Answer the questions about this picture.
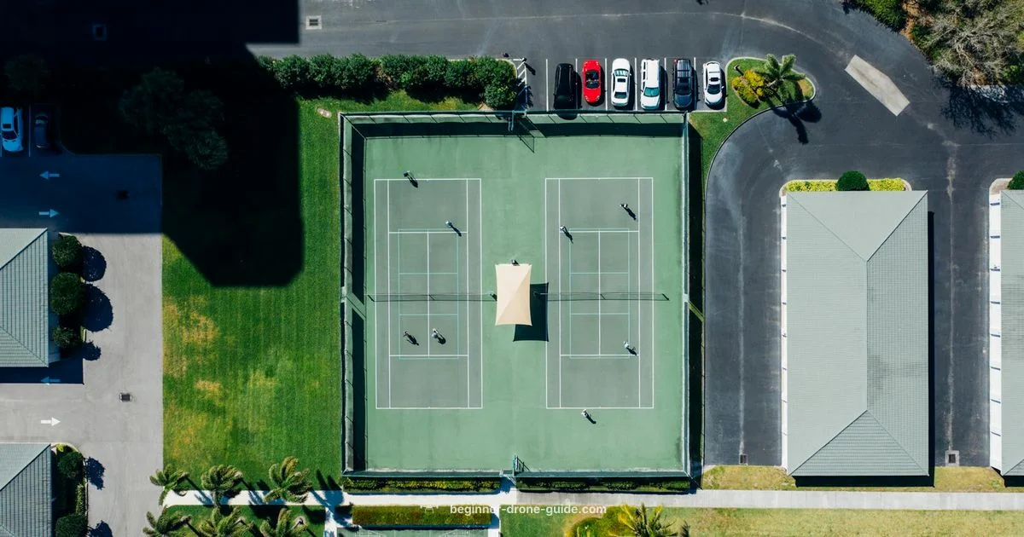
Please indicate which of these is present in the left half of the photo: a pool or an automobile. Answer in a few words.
automobile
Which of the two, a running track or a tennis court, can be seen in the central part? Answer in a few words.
tennis court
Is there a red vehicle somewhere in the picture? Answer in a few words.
Yes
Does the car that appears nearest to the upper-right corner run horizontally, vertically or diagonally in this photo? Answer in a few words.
vertically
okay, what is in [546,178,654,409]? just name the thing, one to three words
tennis court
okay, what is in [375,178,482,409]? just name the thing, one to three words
tennis court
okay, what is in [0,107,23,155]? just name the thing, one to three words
car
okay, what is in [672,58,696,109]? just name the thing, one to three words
car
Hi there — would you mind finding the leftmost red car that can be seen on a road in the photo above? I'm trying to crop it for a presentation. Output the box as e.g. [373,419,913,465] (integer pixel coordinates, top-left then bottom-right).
[582,58,604,103]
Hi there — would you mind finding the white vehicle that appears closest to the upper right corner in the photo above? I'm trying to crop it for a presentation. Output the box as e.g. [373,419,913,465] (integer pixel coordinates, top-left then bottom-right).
[703,60,726,106]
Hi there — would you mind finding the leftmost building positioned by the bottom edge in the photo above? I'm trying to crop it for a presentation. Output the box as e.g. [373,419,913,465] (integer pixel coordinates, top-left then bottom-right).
[0,441,64,537]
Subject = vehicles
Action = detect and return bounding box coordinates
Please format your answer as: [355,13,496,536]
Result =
[611,58,633,107]
[672,58,696,109]
[552,60,575,110]
[582,58,604,103]
[640,58,662,109]
[703,60,726,106]
[0,107,23,155]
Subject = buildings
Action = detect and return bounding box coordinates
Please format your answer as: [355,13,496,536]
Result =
[0,441,64,537]
[988,190,1024,477]
[779,190,929,477]
[0,227,61,367]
